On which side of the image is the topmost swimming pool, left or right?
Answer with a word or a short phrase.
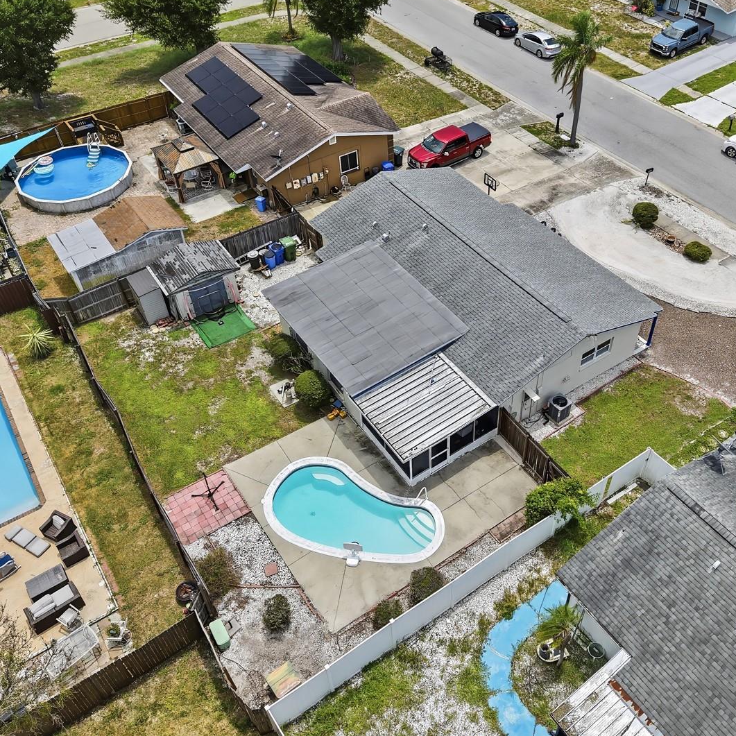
left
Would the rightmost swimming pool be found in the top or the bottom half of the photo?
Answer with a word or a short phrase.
bottom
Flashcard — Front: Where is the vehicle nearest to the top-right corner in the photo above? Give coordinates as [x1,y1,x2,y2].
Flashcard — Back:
[646,17,714,57]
